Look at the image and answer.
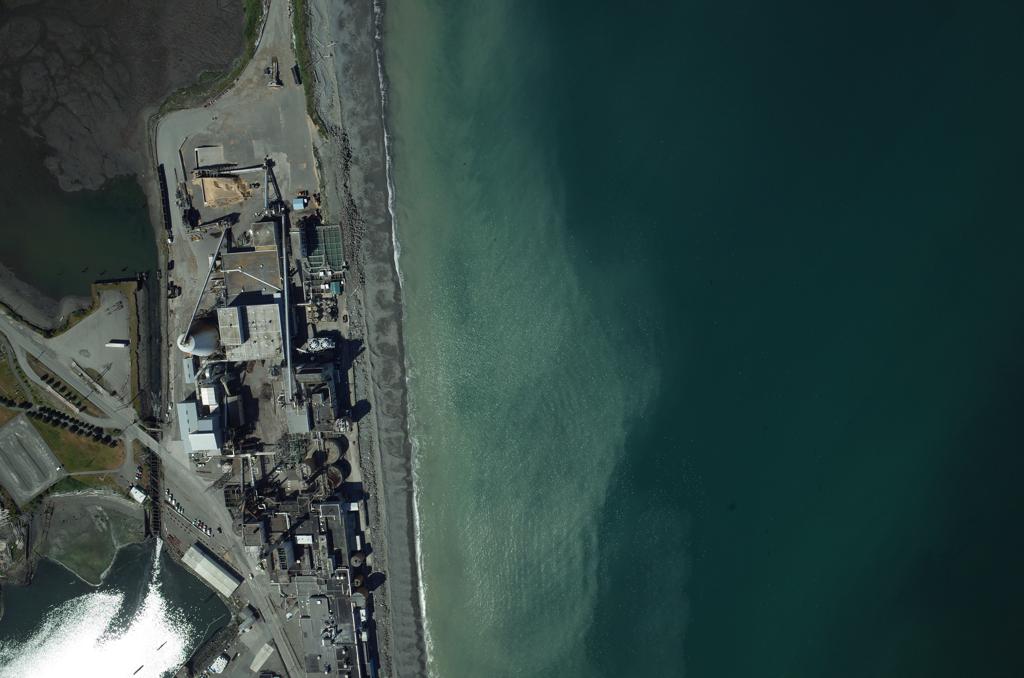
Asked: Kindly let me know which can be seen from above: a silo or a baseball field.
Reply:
silo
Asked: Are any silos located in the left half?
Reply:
Yes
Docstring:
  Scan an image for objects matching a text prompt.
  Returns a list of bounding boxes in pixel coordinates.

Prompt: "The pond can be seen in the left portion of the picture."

[0,105,232,678]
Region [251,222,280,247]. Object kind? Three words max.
building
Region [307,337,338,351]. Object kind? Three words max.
cooling tower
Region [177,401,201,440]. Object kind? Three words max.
building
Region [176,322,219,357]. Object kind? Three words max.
silo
